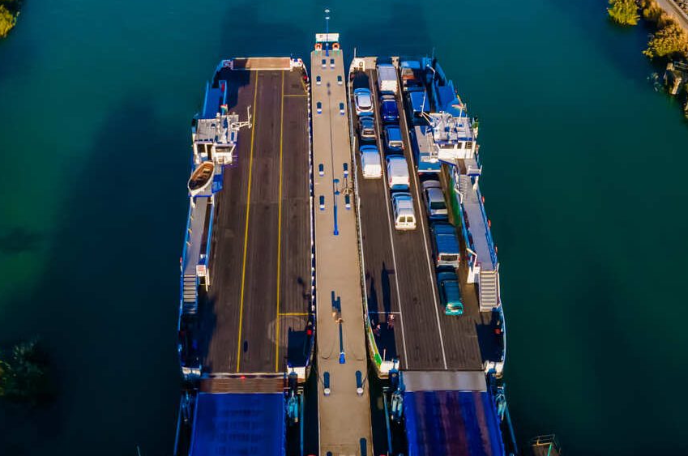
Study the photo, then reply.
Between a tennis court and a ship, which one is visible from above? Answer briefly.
ship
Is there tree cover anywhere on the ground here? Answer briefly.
No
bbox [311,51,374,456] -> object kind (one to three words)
pier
